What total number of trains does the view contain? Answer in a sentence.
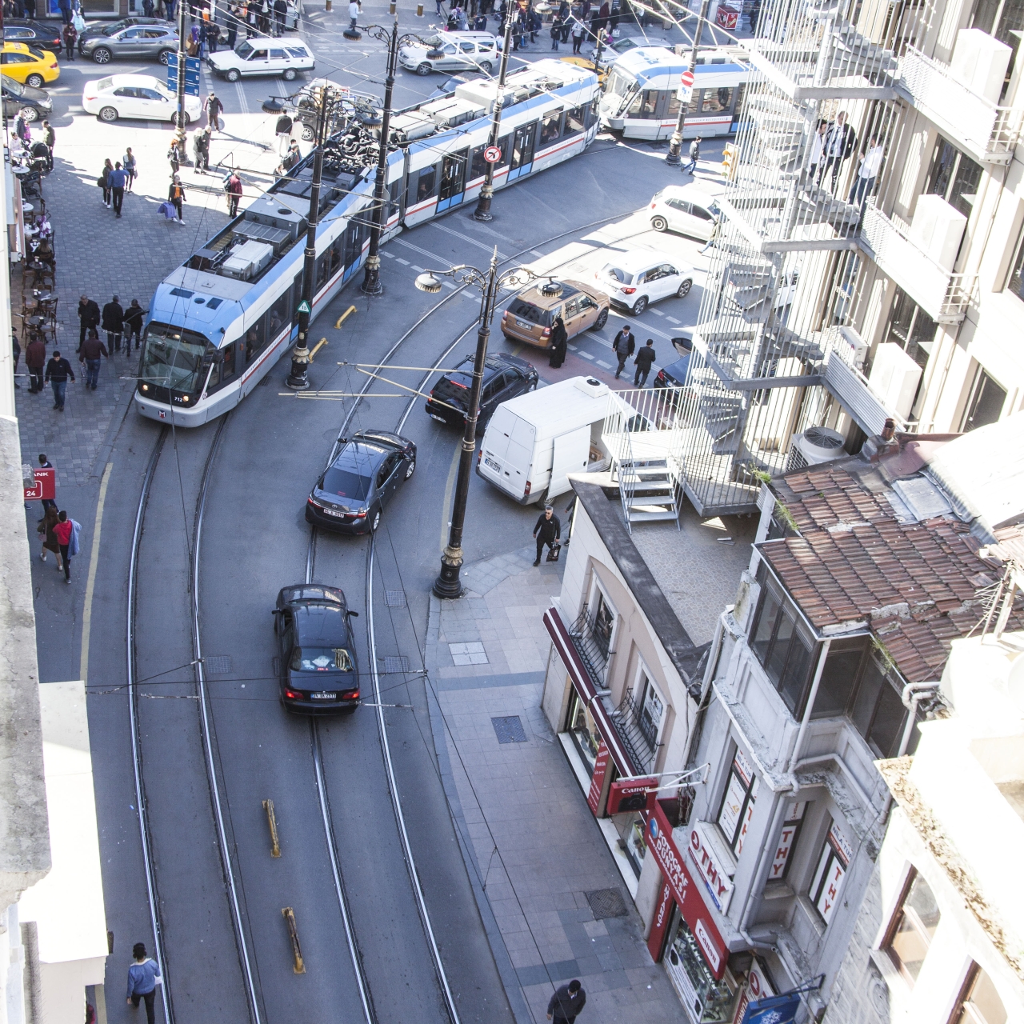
The count of trains comes to 2.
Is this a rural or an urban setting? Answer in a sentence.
The area shown here is urban.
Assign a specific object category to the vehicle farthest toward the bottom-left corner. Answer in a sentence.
The vehicle farthest toward the bottom-left corner appears to be an automobile.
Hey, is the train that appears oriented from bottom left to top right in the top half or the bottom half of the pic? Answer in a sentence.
The train that appears oriented from bottom left to top right sits in the top half of the picture.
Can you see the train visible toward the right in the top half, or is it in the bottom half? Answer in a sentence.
The train visible toward the right sits in the top half of the picture.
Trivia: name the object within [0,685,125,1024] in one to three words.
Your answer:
building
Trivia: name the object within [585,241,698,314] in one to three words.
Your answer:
car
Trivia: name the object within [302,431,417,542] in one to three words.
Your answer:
car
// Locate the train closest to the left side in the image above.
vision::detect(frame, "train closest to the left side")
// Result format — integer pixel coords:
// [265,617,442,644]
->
[112,64,612,431]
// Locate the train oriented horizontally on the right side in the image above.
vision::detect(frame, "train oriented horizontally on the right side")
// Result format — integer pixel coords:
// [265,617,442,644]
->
[599,46,820,136]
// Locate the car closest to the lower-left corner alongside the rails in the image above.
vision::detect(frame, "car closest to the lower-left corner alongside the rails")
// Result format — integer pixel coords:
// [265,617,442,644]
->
[268,575,364,717]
